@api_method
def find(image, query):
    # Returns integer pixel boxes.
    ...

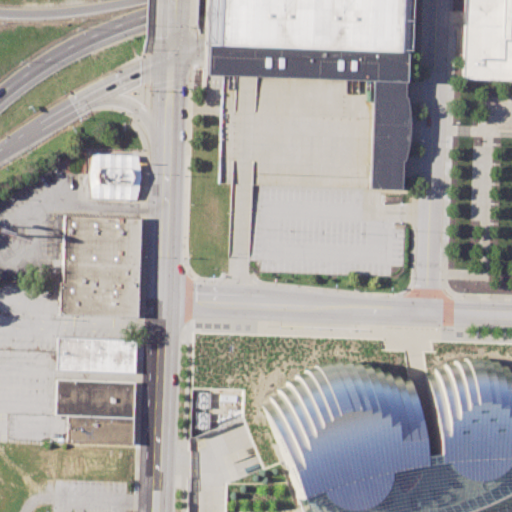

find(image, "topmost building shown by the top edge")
[462,0,512,82]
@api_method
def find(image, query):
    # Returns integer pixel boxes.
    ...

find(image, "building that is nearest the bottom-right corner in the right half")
[264,358,512,512]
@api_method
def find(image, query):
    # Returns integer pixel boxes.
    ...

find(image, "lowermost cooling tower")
[196,412,210,430]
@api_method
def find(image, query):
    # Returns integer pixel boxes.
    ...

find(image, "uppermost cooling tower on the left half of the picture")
[196,392,210,409]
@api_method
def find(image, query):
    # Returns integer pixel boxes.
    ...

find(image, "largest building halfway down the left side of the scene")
[61,216,141,318]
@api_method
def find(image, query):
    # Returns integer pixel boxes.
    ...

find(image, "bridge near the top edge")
[144,0,200,57]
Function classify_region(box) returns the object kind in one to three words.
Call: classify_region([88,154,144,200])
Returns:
building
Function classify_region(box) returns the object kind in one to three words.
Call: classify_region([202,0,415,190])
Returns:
building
